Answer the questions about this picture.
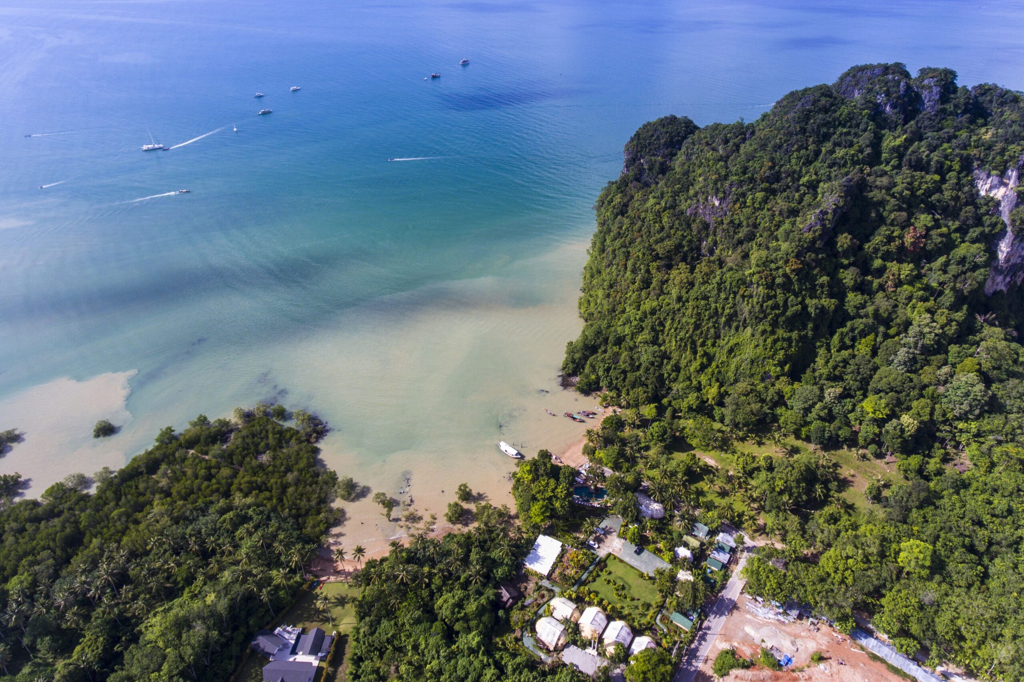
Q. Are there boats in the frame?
Yes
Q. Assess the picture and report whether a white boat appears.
Yes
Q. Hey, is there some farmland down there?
No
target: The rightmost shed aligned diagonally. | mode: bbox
[853,631,943,682]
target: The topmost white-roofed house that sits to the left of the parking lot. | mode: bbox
[524,537,562,580]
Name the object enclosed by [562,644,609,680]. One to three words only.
house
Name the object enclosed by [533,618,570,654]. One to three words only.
house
